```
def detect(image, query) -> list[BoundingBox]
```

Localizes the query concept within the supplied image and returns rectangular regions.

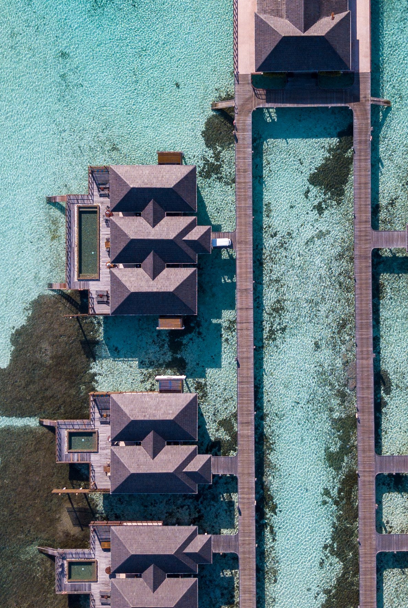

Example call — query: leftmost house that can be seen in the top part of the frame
[49,150,213,330]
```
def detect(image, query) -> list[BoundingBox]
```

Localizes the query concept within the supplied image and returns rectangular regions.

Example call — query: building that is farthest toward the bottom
[40,518,213,608]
